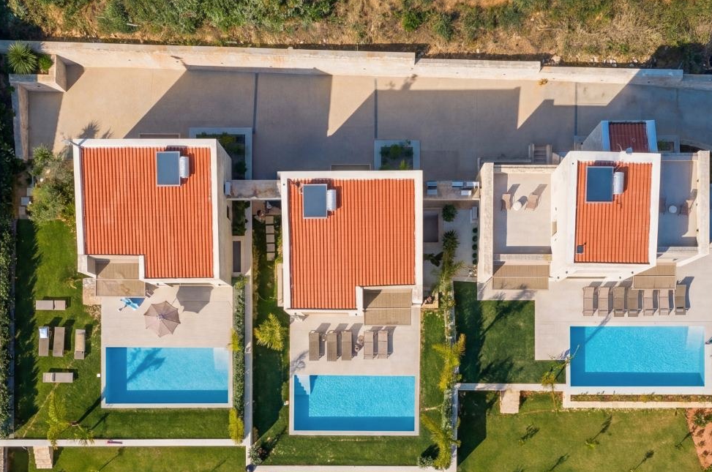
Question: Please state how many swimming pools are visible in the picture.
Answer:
3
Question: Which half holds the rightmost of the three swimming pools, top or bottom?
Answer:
bottom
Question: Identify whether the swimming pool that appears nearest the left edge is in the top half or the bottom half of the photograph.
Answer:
bottom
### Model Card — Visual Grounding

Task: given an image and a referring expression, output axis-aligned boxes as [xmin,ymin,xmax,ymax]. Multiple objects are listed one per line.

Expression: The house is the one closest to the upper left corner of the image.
[74,138,232,289]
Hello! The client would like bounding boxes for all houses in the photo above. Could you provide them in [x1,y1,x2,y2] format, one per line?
[474,120,712,287]
[278,170,422,318]
[74,138,232,289]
